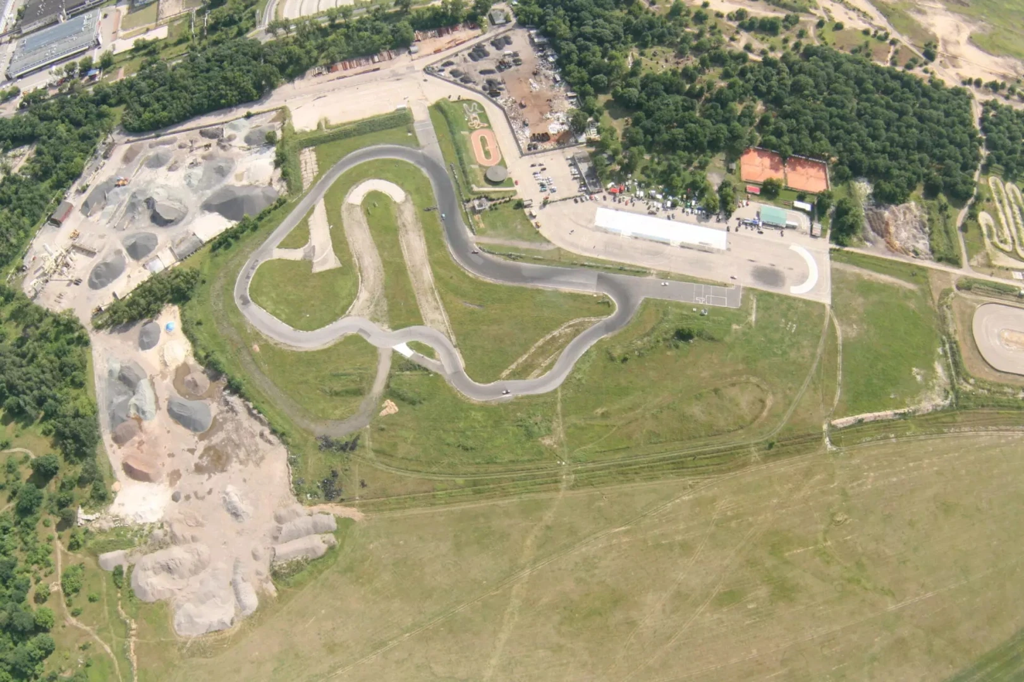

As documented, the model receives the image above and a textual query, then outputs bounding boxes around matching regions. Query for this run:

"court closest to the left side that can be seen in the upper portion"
[742,150,783,180]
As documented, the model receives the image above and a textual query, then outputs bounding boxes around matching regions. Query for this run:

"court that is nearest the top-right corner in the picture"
[786,158,828,190]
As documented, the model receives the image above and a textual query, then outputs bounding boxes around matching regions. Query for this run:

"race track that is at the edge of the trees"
[235,144,741,400]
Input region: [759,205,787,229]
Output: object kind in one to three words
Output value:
building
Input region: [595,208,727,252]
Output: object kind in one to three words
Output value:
tent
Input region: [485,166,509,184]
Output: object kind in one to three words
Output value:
building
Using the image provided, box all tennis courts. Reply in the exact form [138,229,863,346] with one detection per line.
[742,150,783,180]
[786,158,828,190]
